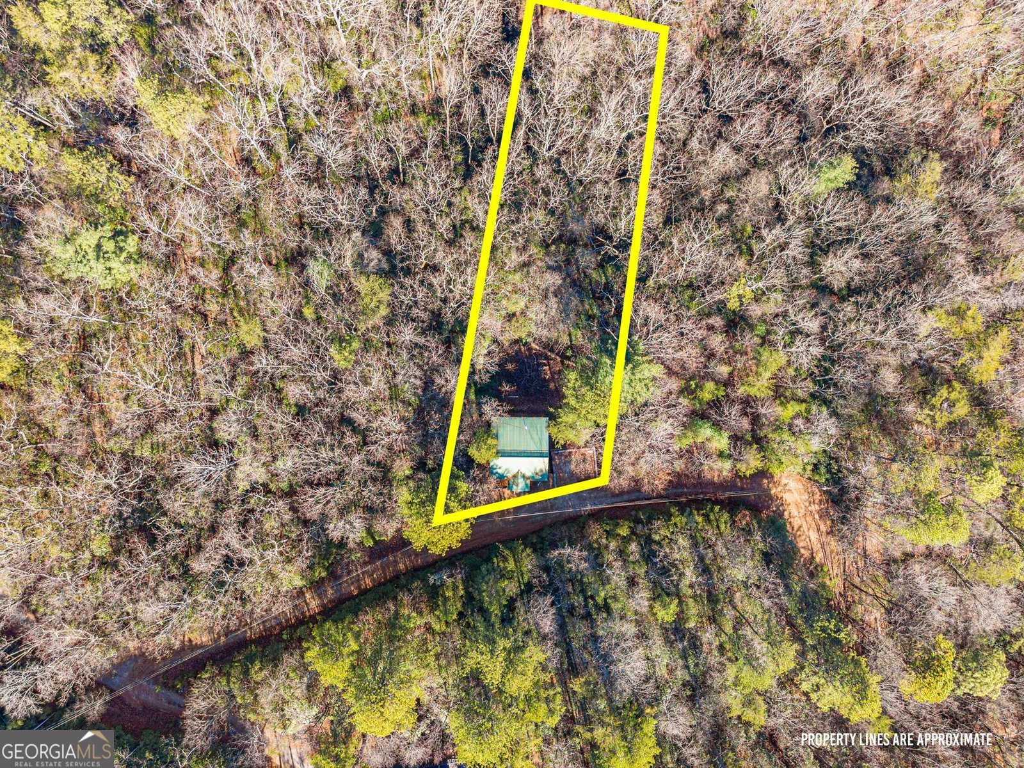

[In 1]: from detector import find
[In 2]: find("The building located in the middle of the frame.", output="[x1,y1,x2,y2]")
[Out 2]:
[490,417,550,498]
